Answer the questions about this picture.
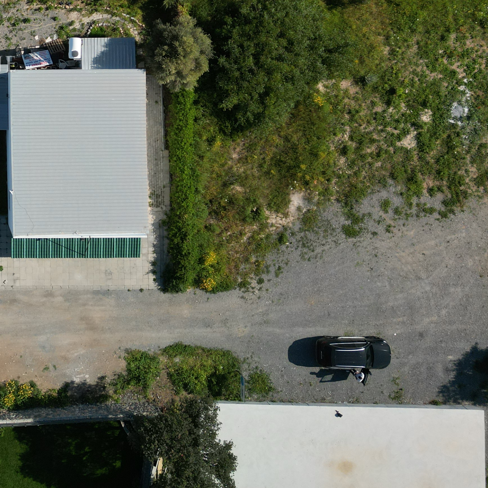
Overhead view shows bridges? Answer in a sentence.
No, this view has no bridge in it.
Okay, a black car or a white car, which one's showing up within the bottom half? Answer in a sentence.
Looking within the bottom half, you will find a black car.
